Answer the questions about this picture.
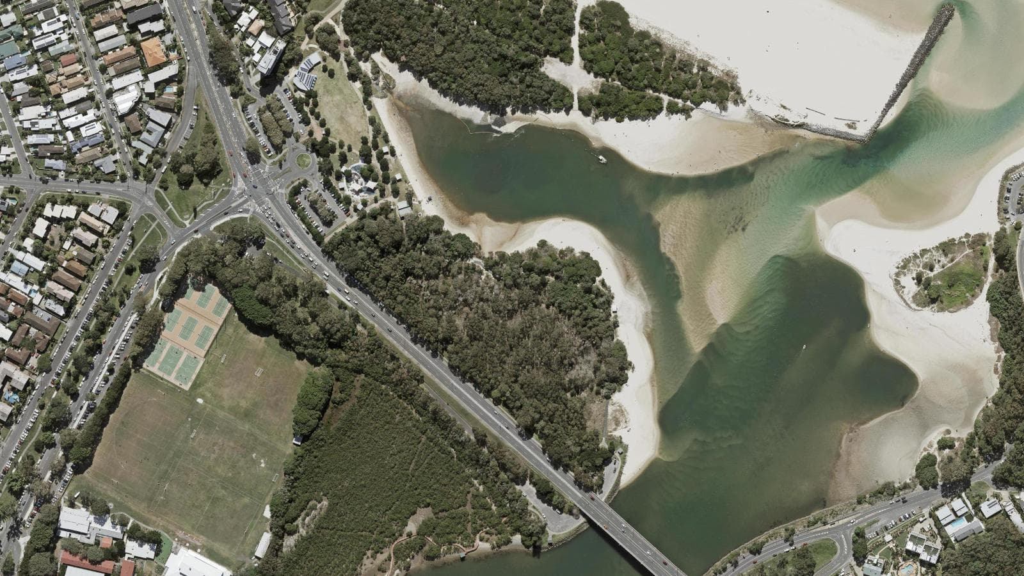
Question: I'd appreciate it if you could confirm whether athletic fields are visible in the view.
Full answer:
Yes, the photo shows an athletic field.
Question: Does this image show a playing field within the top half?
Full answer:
No, no playing field is visible within the top half.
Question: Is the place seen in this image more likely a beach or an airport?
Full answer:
It's a beach.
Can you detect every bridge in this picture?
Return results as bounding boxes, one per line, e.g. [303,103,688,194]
[578,494,689,576]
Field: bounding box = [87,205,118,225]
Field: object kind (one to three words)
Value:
house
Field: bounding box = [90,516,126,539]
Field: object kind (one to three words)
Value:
building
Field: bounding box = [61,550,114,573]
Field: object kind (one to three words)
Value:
building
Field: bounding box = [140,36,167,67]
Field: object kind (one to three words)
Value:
house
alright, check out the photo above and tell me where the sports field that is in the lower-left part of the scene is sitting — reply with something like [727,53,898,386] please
[63,307,307,571]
